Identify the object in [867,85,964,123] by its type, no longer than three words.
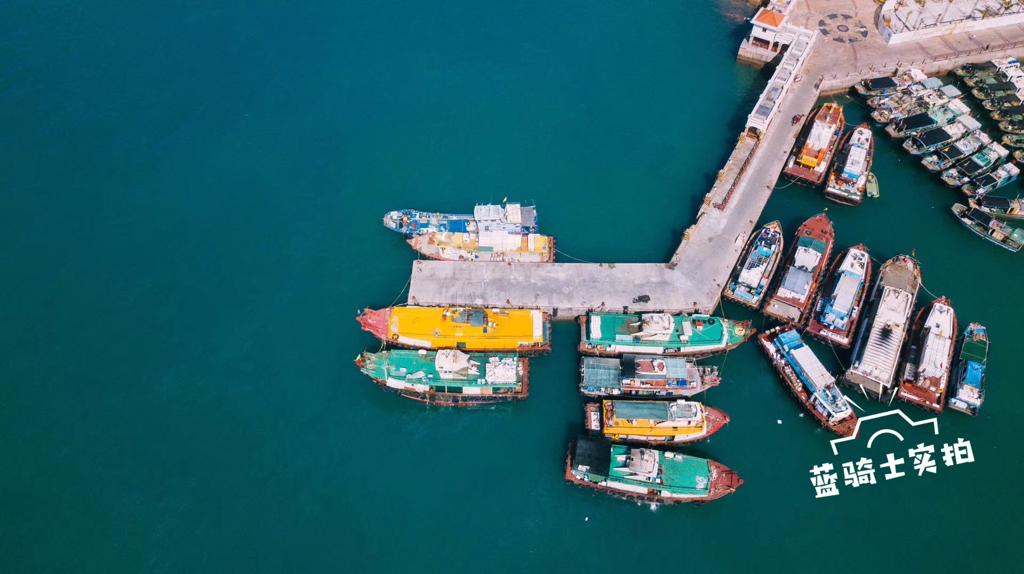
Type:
boat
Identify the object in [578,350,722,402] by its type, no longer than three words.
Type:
boat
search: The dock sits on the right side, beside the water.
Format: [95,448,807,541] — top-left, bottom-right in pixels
[409,67,824,325]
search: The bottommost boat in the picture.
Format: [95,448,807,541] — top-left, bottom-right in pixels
[561,436,746,509]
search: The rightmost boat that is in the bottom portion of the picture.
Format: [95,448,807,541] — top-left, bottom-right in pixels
[947,320,995,419]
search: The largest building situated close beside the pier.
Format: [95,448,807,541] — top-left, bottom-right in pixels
[736,7,792,73]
